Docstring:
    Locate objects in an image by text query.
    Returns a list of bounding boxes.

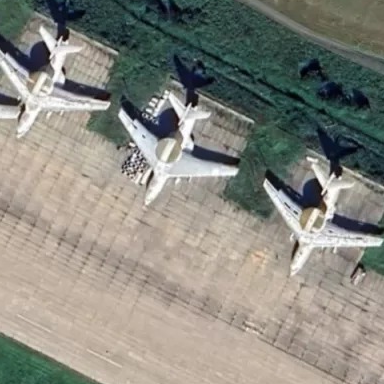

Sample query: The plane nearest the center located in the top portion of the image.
[116,93,238,209]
